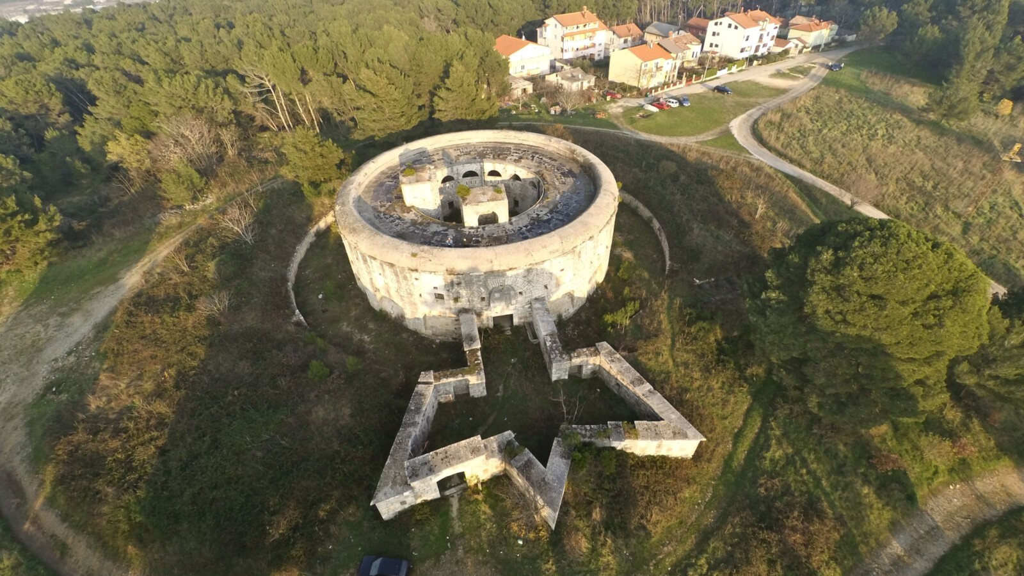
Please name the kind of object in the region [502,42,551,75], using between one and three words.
house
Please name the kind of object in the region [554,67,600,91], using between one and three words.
house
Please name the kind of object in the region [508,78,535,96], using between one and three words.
shed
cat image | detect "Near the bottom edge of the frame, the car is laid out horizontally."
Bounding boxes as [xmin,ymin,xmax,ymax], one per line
[357,554,410,576]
